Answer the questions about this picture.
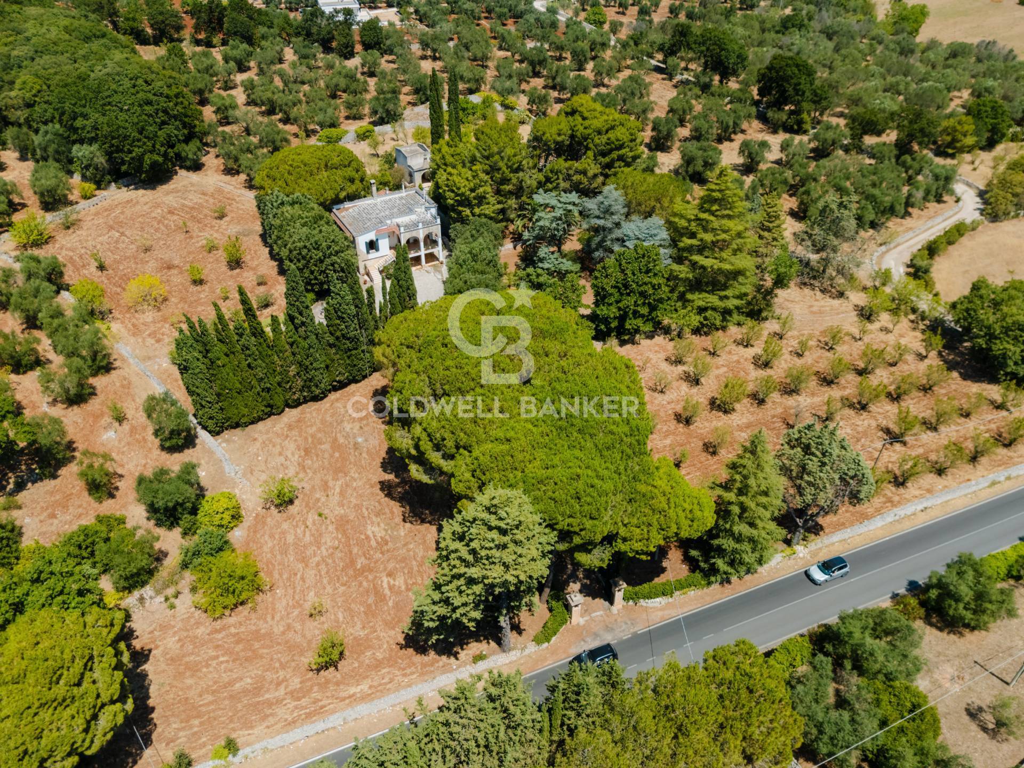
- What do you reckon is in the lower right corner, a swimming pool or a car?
car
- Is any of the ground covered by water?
No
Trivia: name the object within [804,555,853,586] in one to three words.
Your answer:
car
